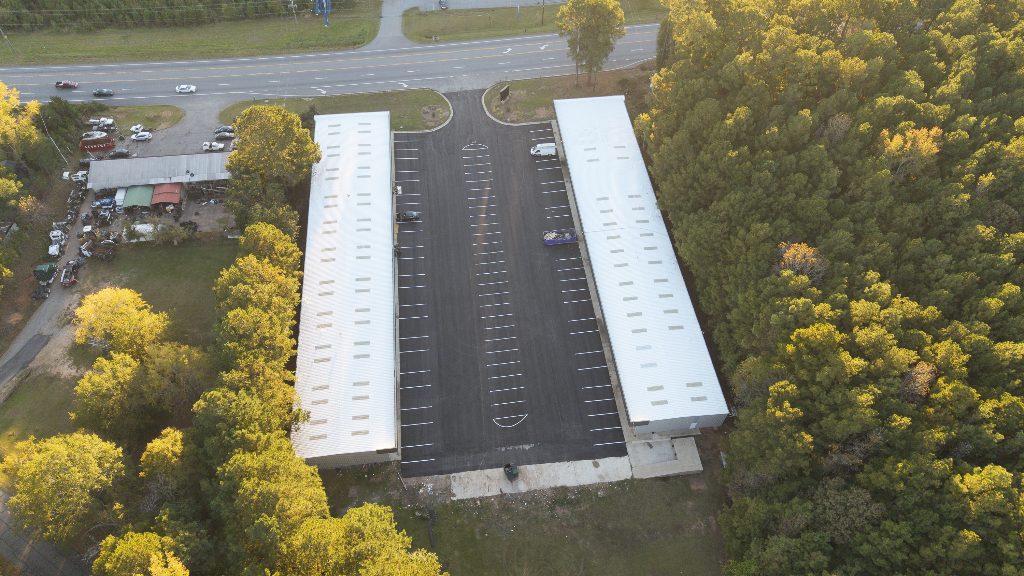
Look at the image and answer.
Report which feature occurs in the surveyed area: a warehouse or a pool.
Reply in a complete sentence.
It is a warehouse that can be seen here.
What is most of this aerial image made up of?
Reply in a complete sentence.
The scene is dominated by trees.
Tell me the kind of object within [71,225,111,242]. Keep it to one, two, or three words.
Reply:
work vehicle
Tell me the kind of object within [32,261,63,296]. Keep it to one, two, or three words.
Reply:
truck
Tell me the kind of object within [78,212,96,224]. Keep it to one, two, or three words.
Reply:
vehicle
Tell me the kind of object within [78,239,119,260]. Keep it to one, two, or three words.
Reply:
truck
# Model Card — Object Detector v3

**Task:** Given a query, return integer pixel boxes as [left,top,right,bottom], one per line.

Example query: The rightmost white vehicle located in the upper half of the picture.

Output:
[530,143,556,158]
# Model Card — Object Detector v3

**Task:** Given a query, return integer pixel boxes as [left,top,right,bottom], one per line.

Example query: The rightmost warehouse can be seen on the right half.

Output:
[552,95,729,433]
